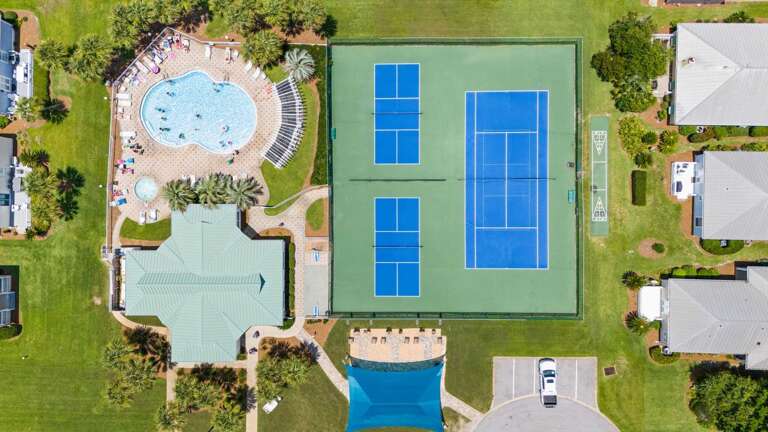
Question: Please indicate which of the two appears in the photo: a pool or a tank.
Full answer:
Visible in the photo is a pool.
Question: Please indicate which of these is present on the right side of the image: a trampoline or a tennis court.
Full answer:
The one visible on the right side of the image is a tennis court.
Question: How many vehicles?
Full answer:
In total, 2 vehicles can be seen.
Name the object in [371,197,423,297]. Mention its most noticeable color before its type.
blue sports court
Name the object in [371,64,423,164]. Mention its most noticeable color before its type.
blue sports court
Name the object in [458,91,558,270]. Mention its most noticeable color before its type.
blue tennis court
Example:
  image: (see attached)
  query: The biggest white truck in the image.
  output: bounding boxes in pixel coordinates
[541,358,562,406]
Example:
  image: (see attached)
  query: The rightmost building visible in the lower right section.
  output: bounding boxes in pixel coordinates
[659,266,768,369]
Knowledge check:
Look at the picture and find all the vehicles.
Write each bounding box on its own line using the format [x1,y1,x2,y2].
[541,358,562,406]
[262,394,284,415]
